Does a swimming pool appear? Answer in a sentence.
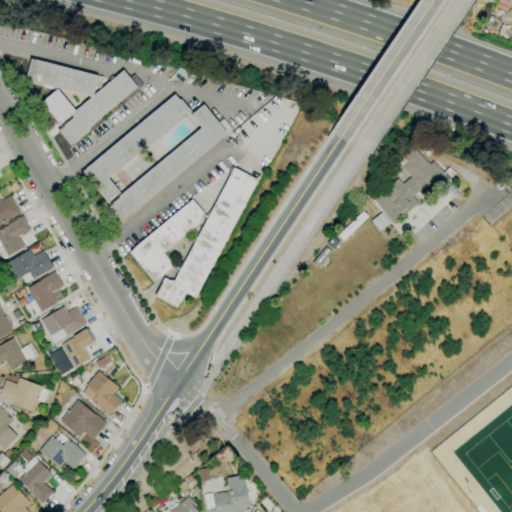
Yes, there is a swimming pool in the image.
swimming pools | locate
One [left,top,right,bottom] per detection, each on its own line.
[162,122,191,149]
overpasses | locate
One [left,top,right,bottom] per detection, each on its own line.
[329,0,476,156]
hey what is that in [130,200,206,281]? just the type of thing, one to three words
building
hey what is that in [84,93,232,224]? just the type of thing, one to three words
building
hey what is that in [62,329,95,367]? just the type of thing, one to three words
house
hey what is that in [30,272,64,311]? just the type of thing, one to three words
house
